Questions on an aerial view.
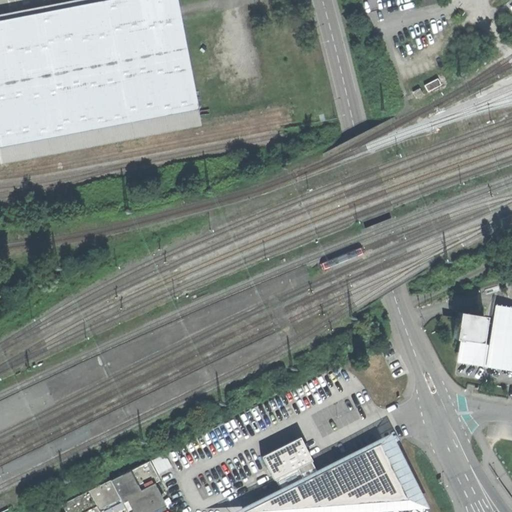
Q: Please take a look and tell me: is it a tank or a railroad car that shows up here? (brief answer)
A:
railroad car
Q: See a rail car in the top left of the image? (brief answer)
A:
No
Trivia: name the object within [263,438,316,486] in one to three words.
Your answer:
building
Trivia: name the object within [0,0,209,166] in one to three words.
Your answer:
warehouse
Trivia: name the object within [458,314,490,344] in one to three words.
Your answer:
building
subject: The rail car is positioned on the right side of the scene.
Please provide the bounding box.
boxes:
[320,246,364,271]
